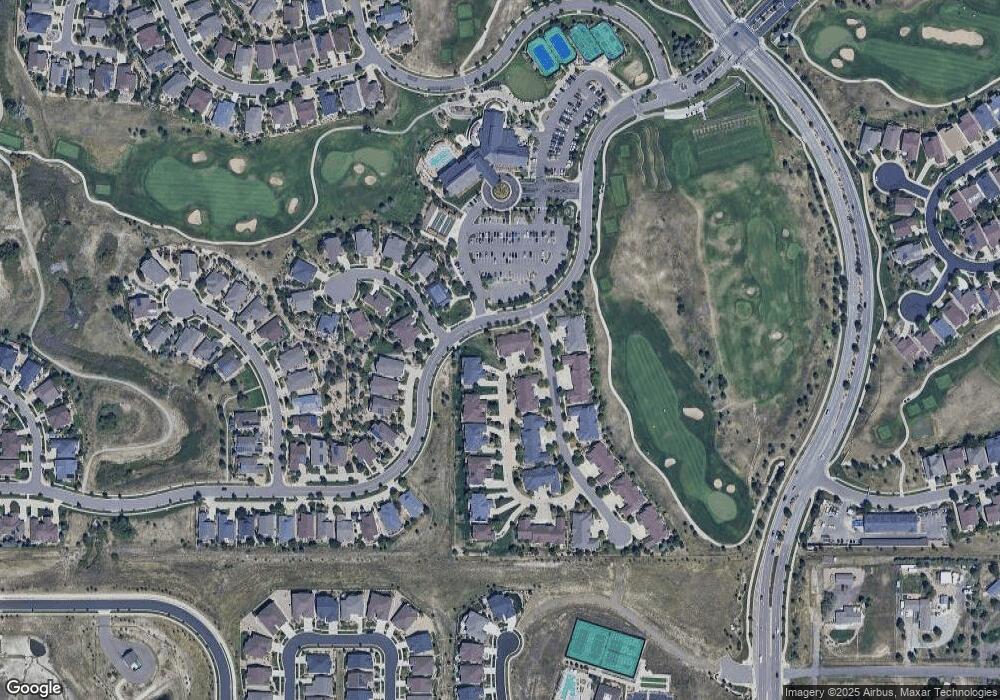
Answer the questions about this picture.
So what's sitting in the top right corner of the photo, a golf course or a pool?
golf course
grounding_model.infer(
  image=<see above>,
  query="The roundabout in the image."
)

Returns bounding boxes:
[481,171,521,212]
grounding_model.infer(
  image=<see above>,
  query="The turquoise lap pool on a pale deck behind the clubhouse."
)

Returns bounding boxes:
[423,144,458,172]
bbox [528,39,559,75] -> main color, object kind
blue tennis court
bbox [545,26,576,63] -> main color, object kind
blue tennis court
